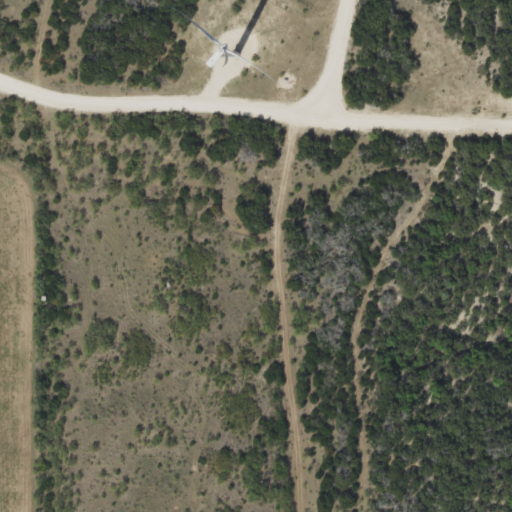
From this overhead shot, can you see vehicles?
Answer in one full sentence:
No, the scene contains no vehicle.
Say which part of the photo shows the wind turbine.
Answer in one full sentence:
Look in the top portion of the view to spot the wind turbine.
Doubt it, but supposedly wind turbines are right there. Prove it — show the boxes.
[173,0,278,77]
